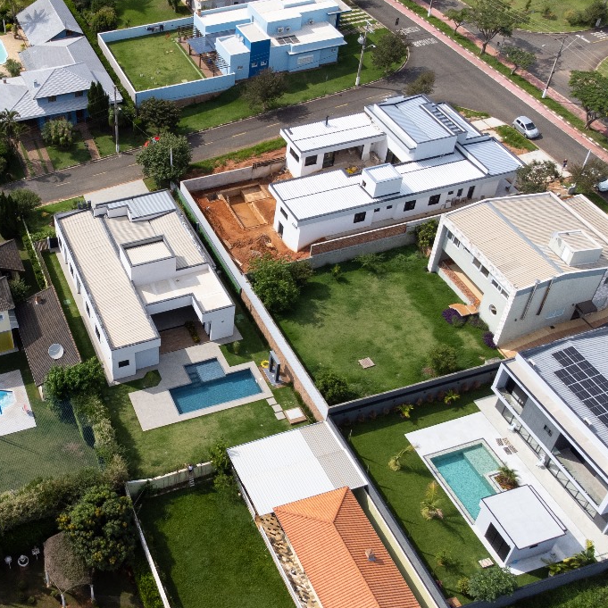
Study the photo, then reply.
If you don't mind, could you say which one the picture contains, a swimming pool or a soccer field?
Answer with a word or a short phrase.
swimming pool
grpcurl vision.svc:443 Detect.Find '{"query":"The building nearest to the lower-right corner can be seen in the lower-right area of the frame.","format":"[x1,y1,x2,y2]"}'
[474,485,571,567]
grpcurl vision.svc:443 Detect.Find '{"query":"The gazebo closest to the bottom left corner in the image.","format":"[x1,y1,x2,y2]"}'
[44,537,94,597]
